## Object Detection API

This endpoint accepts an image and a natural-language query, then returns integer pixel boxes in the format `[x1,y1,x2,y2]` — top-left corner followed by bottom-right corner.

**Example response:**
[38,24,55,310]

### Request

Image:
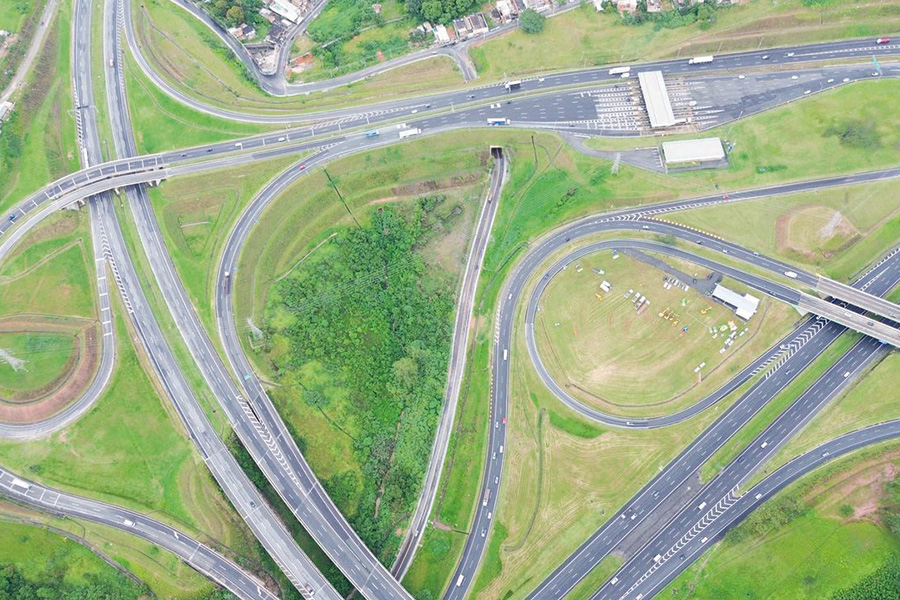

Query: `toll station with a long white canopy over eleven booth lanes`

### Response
[628,71,700,131]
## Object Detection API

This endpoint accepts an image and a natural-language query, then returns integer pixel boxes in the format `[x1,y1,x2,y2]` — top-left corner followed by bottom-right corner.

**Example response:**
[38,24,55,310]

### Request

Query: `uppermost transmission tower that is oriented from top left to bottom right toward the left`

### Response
[246,320,265,341]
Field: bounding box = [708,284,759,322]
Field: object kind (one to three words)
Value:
building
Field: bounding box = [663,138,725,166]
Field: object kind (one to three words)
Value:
building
